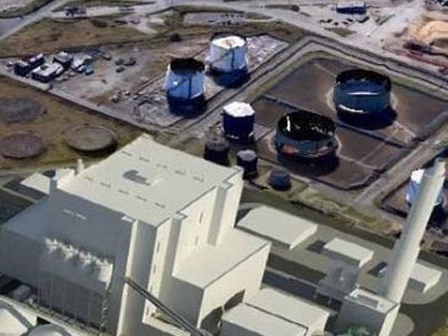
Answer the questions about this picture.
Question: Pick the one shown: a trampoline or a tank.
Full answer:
The one in the frame is a tank.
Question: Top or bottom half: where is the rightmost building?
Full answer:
The rightmost building sits in the bottom half of the picture.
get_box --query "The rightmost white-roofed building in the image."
[409,267,441,301]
